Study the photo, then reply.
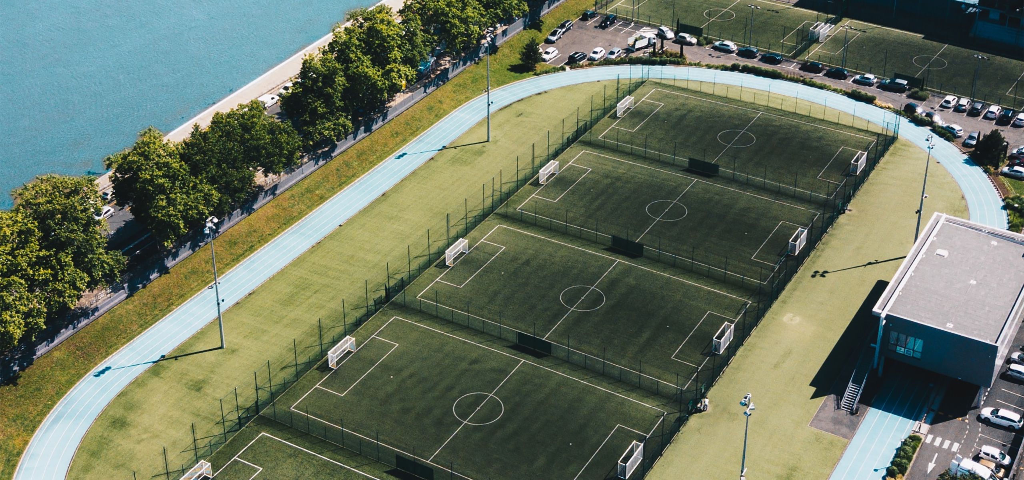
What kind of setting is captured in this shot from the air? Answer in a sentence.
It's a sports ground.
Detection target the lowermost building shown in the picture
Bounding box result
[831,211,1024,413]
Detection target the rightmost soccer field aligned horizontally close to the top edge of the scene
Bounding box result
[789,15,1024,116]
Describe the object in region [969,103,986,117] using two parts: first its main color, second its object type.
black car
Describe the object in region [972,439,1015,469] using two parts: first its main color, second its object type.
white car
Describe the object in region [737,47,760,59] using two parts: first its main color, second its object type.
black vehicle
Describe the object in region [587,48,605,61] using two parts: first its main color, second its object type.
white vehicle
